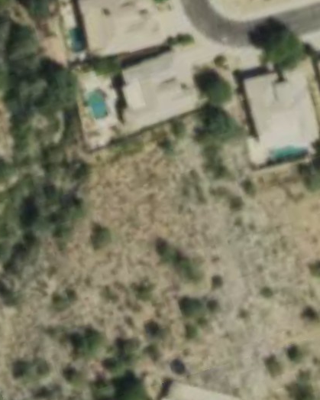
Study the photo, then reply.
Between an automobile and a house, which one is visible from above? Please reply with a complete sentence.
The image shows a house.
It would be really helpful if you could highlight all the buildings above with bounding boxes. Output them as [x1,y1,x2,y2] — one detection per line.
[117,54,205,129]
[246,67,320,147]
[80,0,171,57]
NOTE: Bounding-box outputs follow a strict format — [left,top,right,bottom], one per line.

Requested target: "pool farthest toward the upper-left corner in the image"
[69,21,85,55]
